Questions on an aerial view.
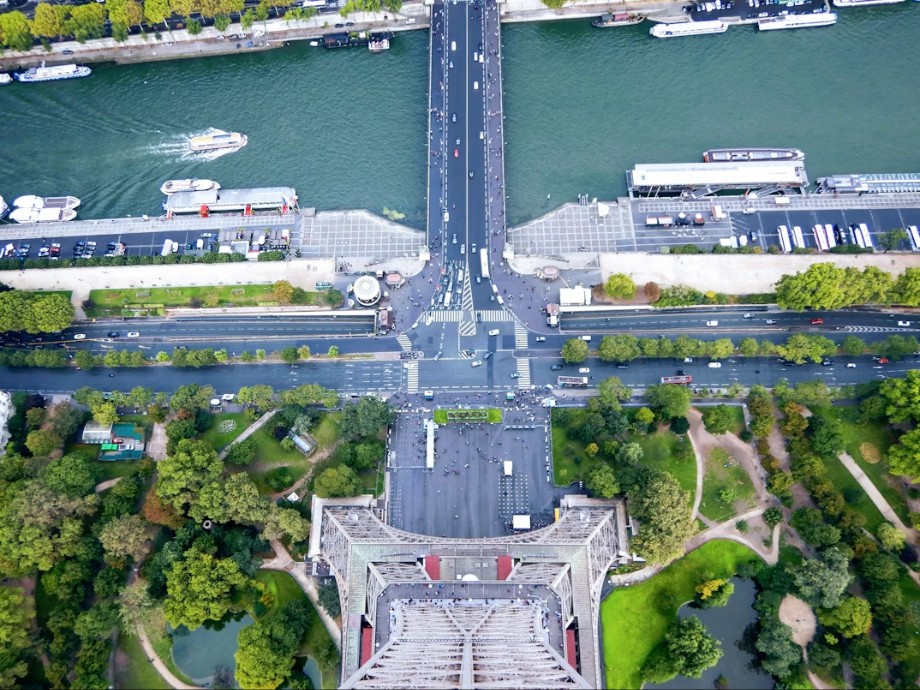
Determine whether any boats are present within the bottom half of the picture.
No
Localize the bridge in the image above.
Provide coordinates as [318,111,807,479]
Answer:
[427,3,506,264]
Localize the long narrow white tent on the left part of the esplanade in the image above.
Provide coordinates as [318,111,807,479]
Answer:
[422,414,438,473]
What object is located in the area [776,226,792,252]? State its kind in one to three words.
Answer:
vehicle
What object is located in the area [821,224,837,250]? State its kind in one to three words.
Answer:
vehicle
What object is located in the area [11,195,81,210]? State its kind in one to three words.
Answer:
boat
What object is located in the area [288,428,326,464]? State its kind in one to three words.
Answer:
building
